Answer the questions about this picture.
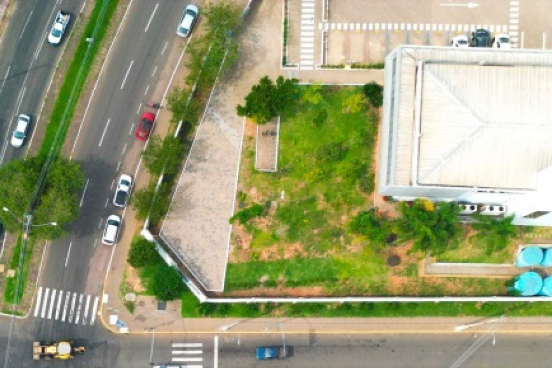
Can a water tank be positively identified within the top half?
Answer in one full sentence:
No, no water tank appears within the top half.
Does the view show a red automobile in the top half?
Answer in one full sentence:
Yes, a red automobile can be seen in the top half.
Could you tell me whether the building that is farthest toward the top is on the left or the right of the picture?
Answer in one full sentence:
You can find the building that is farthest toward the top on the right side of the picture.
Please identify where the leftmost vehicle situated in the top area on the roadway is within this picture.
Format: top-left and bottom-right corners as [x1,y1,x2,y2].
[11,114,31,149]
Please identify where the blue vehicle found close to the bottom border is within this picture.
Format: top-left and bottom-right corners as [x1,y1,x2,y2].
[255,343,291,360]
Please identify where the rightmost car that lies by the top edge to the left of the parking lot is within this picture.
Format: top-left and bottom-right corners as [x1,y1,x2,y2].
[175,4,197,40]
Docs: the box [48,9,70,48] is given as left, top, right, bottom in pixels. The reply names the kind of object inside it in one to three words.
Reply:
truck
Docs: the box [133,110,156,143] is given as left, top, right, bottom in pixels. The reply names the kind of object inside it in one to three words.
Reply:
car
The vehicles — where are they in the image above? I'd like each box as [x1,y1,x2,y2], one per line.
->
[492,35,512,45]
[11,114,31,149]
[451,35,470,45]
[133,110,156,143]
[175,4,197,40]
[255,343,291,360]
[152,362,181,368]
[470,29,492,45]
[111,173,133,209]
[48,9,70,48]
[101,214,122,247]
[34,342,87,360]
